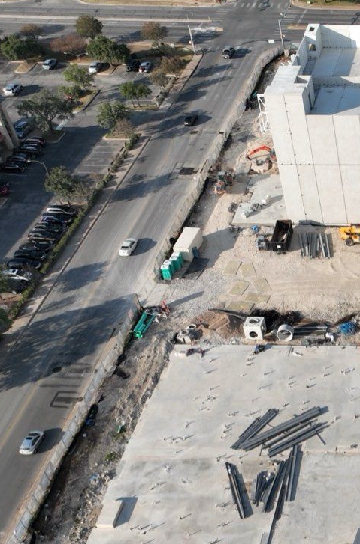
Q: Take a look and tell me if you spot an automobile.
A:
Yes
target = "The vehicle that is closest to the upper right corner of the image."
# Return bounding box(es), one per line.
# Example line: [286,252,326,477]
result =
[222,46,236,58]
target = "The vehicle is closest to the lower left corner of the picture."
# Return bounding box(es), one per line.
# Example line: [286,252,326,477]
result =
[14,428,48,456]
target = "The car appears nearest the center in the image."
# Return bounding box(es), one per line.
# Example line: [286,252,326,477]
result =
[116,240,140,256]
